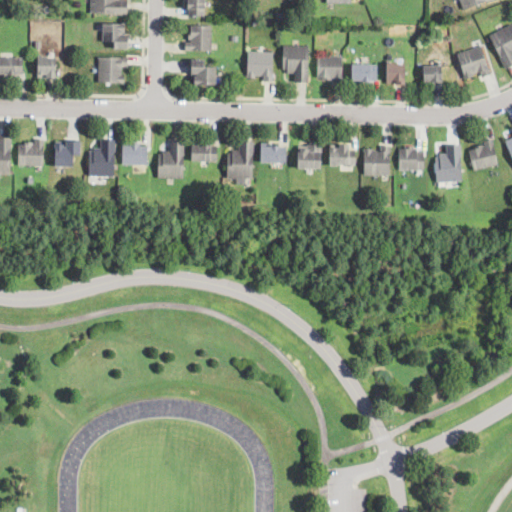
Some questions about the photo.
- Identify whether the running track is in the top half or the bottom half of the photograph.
bottom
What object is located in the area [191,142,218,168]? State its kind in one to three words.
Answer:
house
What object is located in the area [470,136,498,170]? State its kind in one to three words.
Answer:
house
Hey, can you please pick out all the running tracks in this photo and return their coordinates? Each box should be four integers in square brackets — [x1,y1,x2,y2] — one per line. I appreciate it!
[58,398,276,512]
